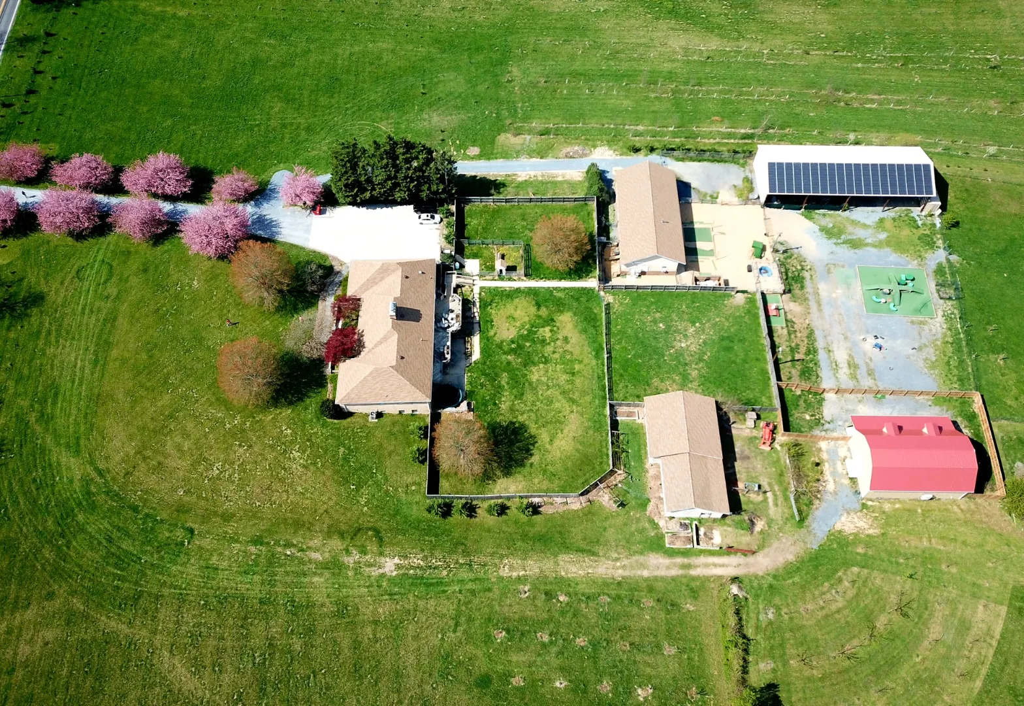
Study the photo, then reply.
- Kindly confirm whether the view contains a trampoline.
Yes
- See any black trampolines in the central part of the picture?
Yes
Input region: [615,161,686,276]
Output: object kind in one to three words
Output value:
barn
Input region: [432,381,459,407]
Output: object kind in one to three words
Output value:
trampoline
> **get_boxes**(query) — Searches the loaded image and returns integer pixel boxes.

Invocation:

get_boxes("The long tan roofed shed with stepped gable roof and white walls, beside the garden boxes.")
[643,390,730,519]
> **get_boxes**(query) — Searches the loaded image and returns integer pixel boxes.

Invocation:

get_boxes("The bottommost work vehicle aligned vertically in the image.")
[763,420,778,449]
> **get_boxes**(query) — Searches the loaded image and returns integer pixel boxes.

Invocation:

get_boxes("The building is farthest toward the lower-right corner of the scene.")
[850,412,976,500]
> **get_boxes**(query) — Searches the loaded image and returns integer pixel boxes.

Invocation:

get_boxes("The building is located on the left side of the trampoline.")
[335,259,436,414]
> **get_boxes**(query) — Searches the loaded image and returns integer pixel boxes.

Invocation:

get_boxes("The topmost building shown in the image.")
[756,145,936,207]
